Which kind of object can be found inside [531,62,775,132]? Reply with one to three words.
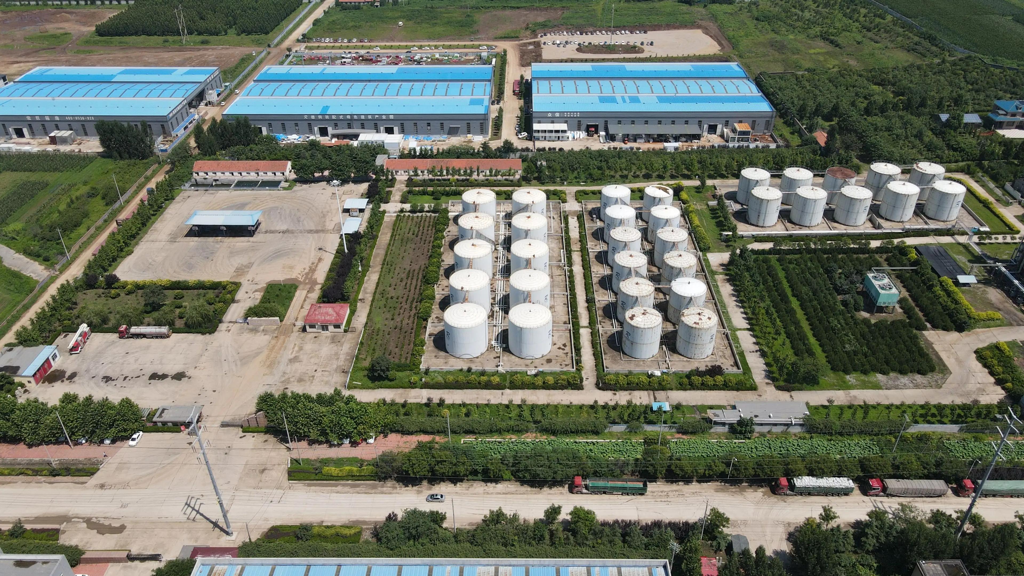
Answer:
building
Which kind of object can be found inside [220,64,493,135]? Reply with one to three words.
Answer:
building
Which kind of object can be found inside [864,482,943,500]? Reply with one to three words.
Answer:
vehicle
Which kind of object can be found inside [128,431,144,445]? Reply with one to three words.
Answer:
car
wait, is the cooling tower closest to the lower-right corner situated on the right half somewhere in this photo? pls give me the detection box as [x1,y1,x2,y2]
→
[862,271,902,313]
